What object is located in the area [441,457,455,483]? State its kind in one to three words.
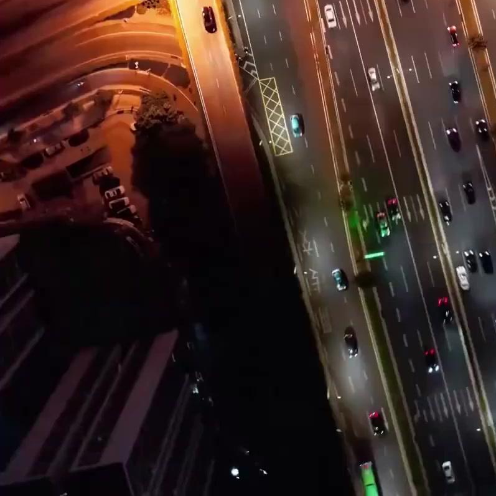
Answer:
car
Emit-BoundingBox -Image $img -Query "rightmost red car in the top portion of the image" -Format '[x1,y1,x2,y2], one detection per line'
[446,23,460,49]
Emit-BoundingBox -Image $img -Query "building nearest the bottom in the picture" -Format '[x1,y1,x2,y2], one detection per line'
[0,329,222,496]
